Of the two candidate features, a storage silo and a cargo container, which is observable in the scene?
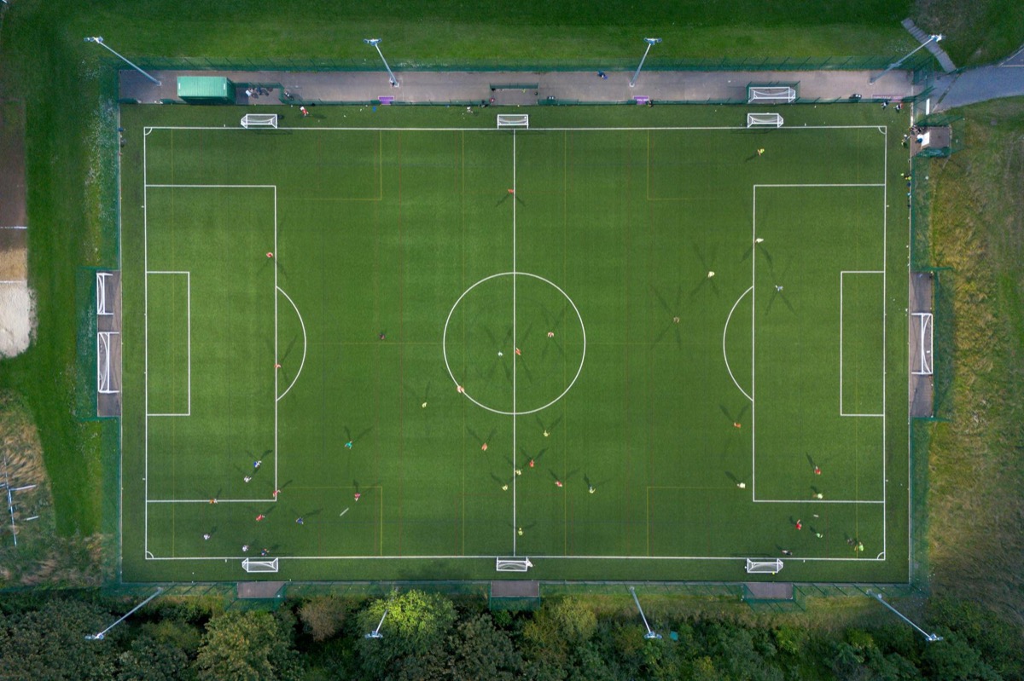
cargo container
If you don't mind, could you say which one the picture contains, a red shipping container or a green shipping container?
green shipping container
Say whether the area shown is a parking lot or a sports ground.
sports ground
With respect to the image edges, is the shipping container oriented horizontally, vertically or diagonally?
horizontally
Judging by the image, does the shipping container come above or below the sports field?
above it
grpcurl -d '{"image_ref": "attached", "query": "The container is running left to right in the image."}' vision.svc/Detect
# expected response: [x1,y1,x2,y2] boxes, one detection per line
[178,76,234,102]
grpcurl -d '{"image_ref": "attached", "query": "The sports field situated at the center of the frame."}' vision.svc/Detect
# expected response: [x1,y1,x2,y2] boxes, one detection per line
[145,129,885,560]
